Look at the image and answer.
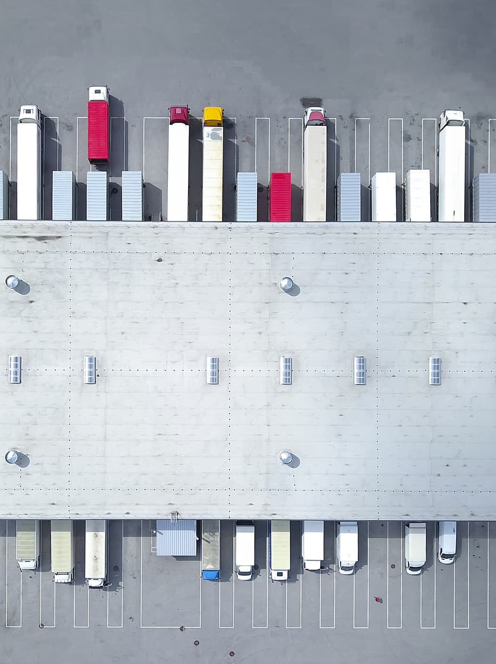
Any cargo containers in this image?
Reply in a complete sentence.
Yes, the picture does show a cargo container.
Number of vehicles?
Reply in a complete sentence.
Altogether the scene contains 16 vehicles.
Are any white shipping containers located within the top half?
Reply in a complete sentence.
Yes, I can see a white shipping container within the top half.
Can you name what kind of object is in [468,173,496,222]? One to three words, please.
shipping container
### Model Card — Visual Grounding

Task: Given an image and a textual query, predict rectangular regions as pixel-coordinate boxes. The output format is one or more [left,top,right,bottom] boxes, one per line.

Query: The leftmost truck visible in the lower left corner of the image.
[16,521,41,573]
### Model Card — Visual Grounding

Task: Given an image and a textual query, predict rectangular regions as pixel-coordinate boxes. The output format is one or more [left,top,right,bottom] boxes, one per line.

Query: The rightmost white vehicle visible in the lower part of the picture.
[434,523,456,563]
